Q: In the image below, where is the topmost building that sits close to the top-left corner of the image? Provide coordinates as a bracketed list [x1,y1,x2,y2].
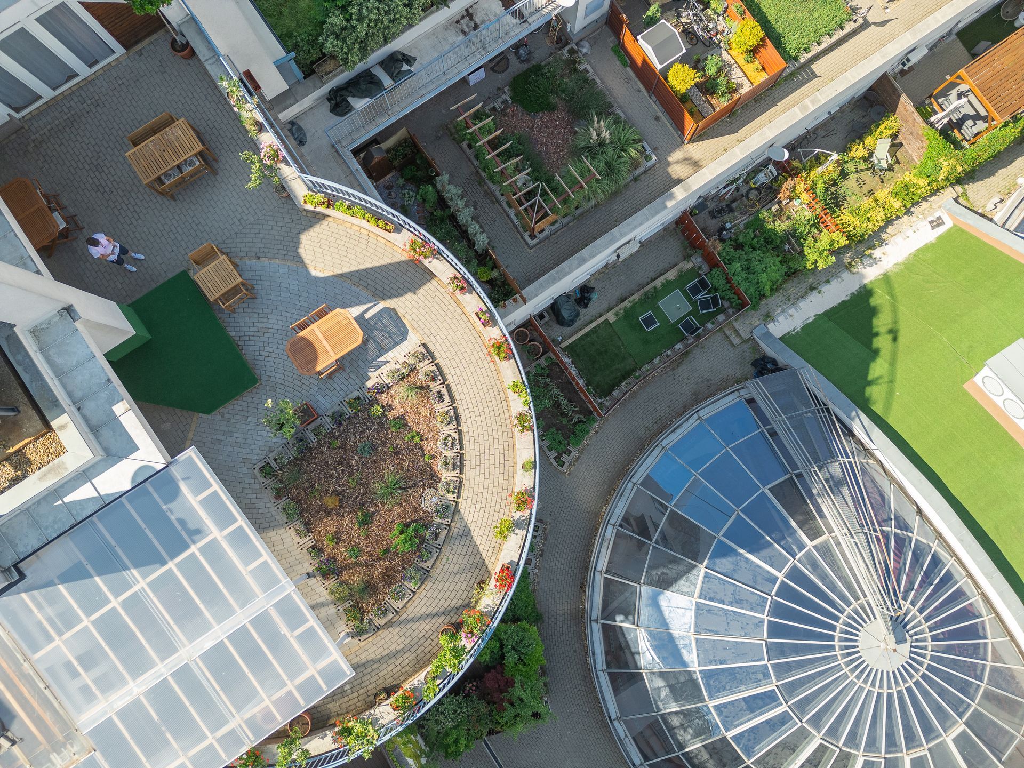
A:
[0,0,206,120]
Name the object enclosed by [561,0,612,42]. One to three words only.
house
